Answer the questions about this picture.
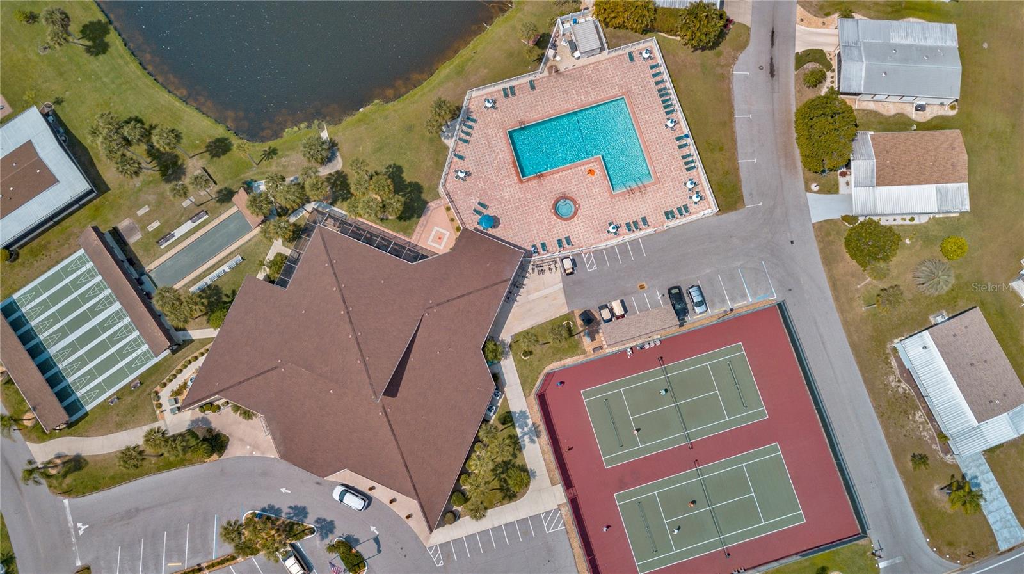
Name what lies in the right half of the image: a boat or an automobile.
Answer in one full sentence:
Visible in the right half of the image is an automobile.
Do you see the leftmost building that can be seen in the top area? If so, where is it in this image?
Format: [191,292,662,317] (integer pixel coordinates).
[0,107,97,249]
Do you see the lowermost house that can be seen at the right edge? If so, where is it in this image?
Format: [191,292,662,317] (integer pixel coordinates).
[895,308,1024,457]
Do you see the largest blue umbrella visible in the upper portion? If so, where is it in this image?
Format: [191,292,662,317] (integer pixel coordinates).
[477,210,495,227]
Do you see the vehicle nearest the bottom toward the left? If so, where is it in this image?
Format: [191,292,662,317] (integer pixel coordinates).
[282,542,311,574]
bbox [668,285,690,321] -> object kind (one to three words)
car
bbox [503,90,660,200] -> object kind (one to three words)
swimming pool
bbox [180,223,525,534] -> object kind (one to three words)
building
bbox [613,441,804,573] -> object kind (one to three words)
tennis court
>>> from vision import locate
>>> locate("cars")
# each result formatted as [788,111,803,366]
[668,285,690,321]
[331,485,367,512]
[282,542,311,574]
[687,283,709,316]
